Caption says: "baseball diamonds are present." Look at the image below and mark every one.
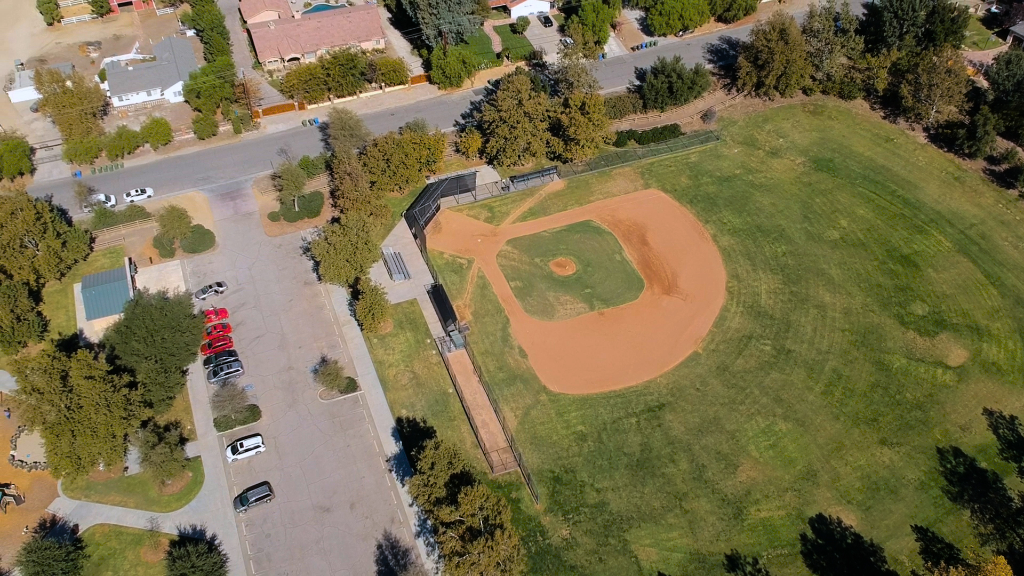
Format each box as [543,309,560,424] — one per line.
[424,105,1024,576]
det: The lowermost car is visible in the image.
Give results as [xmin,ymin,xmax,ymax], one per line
[231,482,276,513]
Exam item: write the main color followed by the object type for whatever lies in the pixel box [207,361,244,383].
gray car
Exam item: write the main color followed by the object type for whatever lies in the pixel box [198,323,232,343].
red car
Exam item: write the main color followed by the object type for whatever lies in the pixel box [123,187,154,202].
white car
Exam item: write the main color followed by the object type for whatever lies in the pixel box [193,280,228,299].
gray car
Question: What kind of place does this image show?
sports ground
